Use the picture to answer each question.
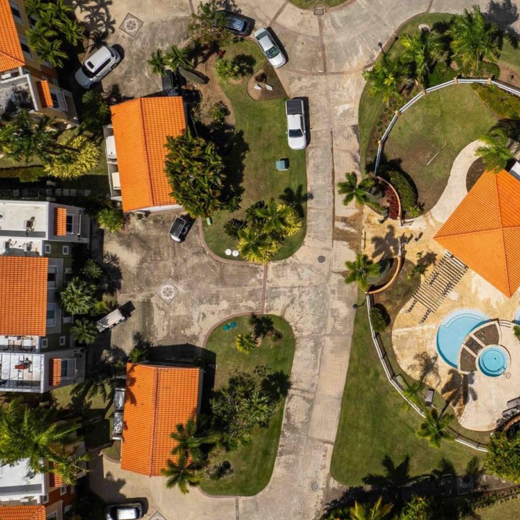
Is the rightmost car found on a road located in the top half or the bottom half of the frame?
top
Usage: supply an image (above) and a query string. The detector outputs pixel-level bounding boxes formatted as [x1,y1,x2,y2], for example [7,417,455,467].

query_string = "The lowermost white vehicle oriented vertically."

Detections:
[286,99,308,150]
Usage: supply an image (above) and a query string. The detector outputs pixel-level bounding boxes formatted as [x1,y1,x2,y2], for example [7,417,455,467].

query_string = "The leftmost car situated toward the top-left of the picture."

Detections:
[78,47,121,88]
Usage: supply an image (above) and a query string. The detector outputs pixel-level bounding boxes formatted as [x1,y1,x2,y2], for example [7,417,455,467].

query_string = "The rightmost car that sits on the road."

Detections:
[254,28,287,70]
